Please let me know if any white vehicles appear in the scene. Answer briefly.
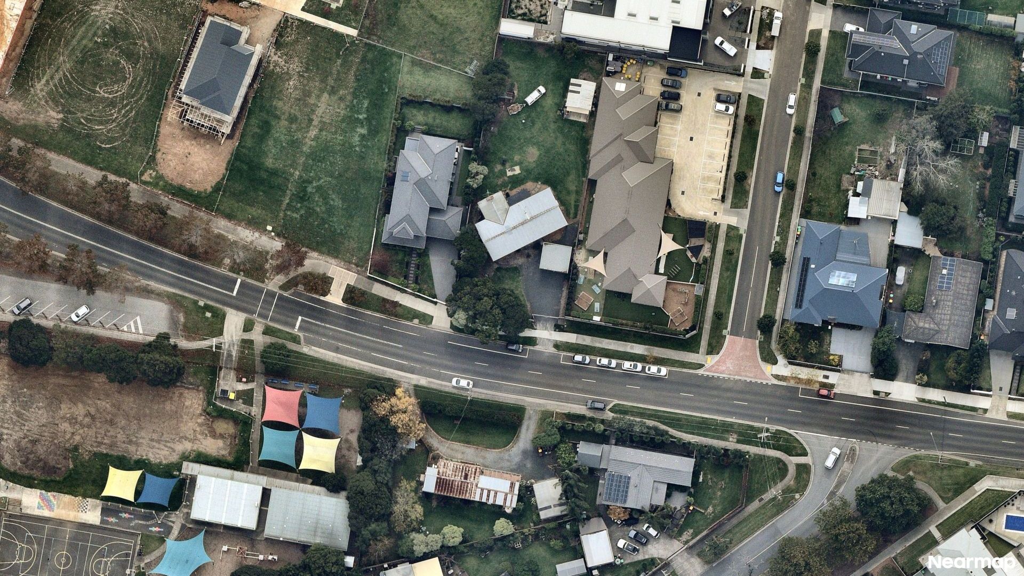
Yes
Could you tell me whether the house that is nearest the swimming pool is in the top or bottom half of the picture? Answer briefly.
bottom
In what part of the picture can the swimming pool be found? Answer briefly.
bottom right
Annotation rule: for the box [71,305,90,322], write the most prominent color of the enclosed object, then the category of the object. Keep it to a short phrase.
white car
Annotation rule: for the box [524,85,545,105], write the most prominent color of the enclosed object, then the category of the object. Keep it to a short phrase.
white car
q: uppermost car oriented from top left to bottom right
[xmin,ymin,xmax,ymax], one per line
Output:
[715,37,736,56]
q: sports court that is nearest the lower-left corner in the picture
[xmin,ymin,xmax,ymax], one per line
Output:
[0,510,140,576]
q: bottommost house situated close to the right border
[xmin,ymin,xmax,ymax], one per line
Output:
[913,528,1005,576]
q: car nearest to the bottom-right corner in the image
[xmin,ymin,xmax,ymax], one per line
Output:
[824,446,841,469]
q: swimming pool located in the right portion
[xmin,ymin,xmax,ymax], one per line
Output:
[1002,512,1024,535]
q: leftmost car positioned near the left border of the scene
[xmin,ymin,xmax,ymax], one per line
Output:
[12,297,33,314]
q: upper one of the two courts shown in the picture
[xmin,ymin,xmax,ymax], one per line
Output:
[100,500,175,535]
